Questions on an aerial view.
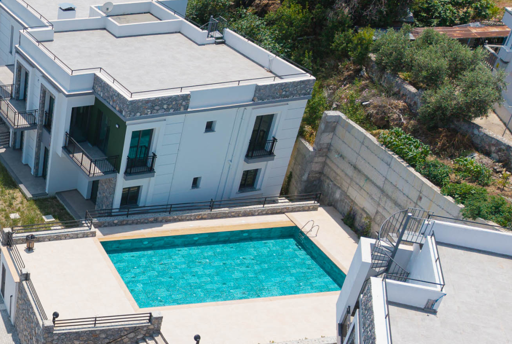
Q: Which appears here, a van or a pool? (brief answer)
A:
pool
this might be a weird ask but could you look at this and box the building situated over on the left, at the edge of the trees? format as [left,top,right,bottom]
[0,0,323,237]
